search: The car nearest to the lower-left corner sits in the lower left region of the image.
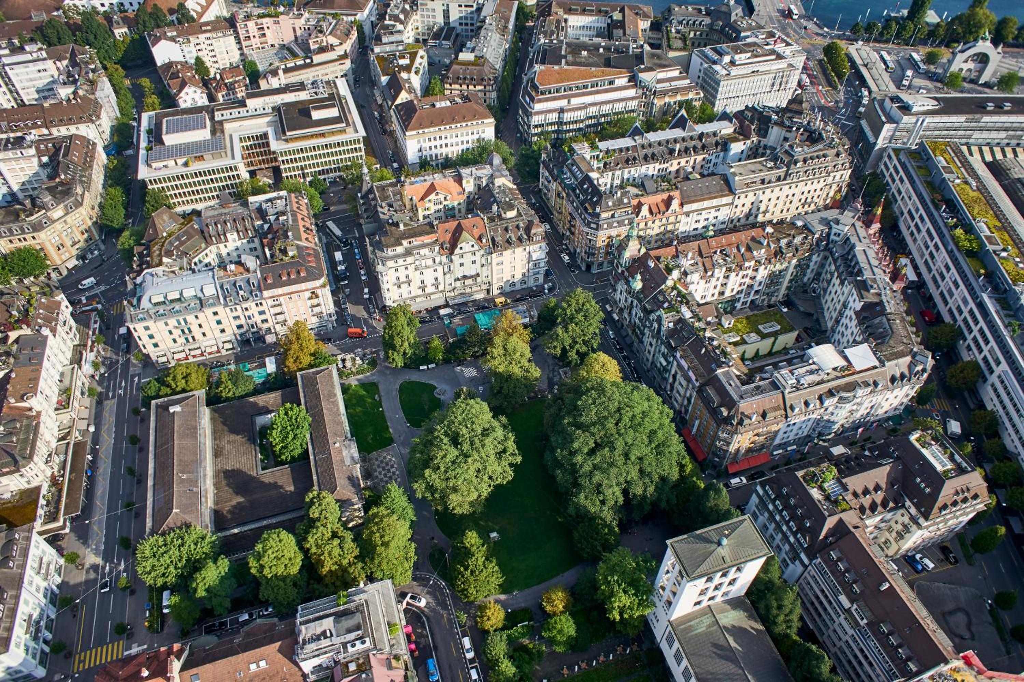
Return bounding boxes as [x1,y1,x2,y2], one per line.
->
[99,574,111,594]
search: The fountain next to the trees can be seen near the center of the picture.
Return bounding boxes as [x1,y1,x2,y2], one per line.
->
[431,383,450,398]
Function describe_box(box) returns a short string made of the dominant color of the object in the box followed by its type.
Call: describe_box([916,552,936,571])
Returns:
white car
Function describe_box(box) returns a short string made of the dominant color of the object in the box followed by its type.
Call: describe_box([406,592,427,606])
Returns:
white car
